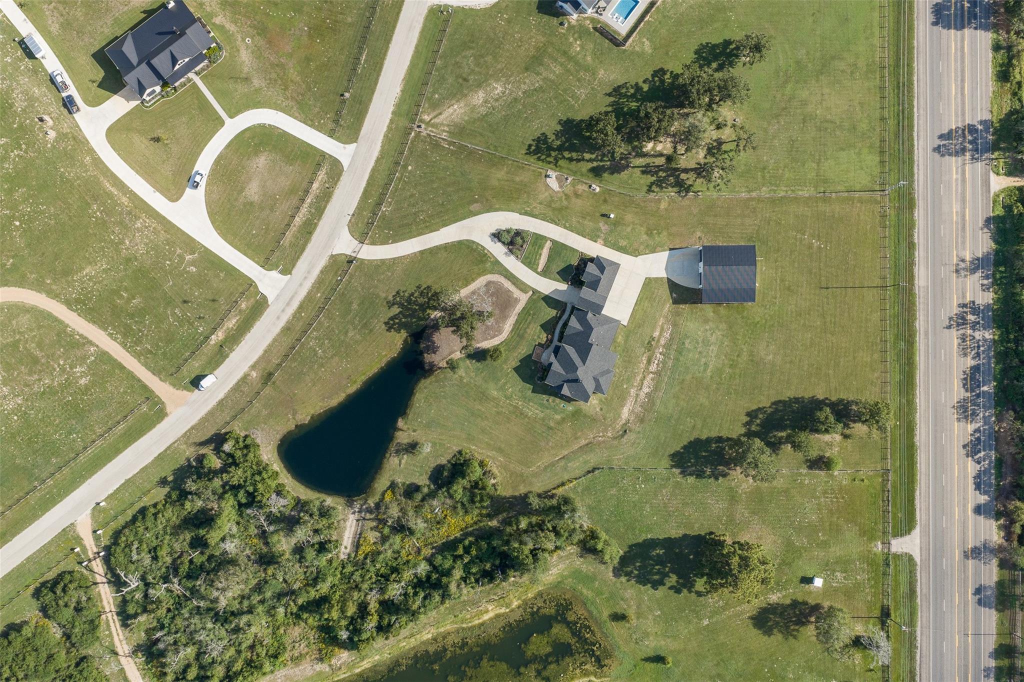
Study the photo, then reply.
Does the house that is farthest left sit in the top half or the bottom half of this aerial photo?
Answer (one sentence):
The house that is farthest left sits in the top half of the picture.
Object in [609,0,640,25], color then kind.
blue swimming pool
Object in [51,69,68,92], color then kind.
white vehicle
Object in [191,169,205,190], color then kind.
white vehicle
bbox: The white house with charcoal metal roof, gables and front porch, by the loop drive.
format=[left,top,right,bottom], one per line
[104,0,215,99]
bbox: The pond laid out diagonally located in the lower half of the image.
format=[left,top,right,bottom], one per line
[277,325,434,497]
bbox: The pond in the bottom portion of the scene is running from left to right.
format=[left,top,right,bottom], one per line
[358,585,619,682]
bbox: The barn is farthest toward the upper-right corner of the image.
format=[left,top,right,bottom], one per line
[699,245,763,303]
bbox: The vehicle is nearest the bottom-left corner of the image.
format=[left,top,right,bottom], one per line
[197,372,218,391]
